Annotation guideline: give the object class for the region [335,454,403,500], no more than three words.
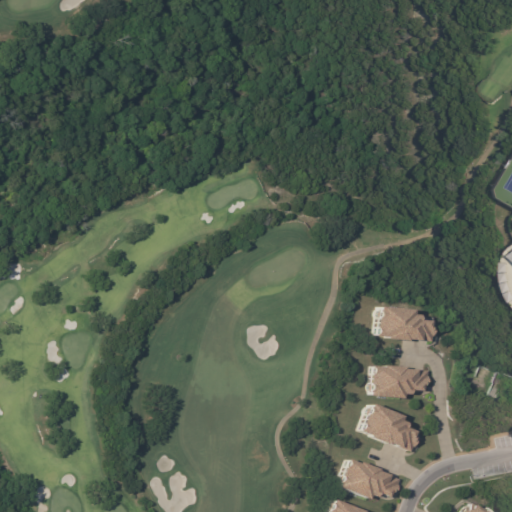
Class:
house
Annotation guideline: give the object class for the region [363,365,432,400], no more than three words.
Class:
house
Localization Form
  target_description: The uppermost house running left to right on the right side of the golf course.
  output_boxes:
[372,307,438,342]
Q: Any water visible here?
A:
No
